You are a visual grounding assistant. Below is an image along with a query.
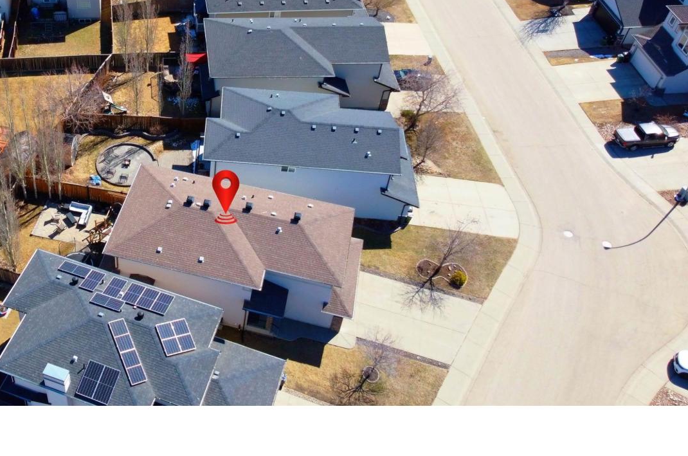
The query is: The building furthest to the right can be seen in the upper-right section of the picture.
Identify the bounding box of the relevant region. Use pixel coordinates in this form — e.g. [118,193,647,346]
[626,0,688,97]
